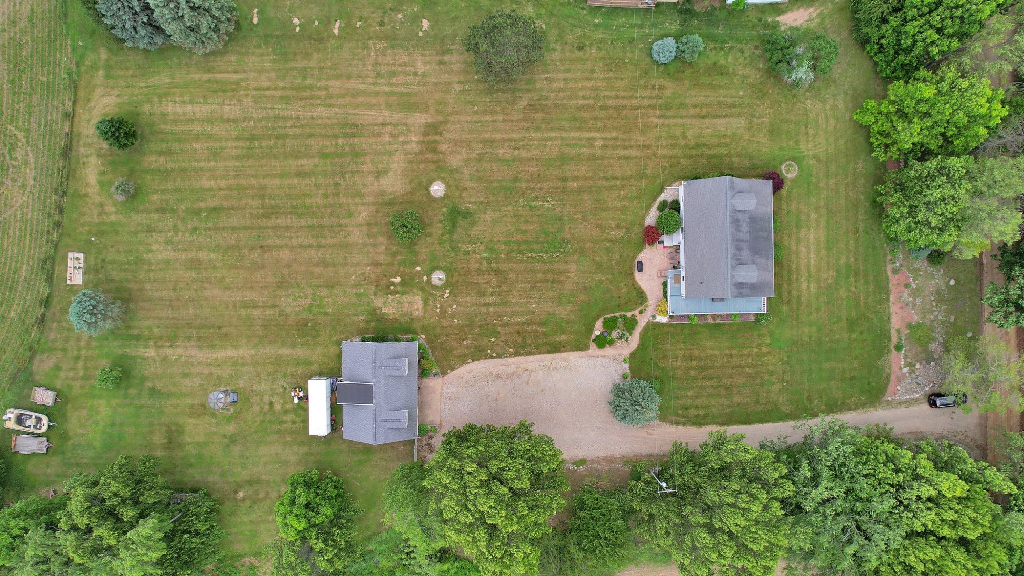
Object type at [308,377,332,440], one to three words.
trailer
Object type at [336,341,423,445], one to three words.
building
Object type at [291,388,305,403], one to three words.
work vehicle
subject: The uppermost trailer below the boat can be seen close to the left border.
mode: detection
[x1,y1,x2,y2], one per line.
[9,432,56,455]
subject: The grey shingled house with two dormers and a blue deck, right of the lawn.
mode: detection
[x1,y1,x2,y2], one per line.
[659,175,775,315]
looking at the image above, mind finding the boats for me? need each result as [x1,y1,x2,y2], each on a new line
[0,409,57,431]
